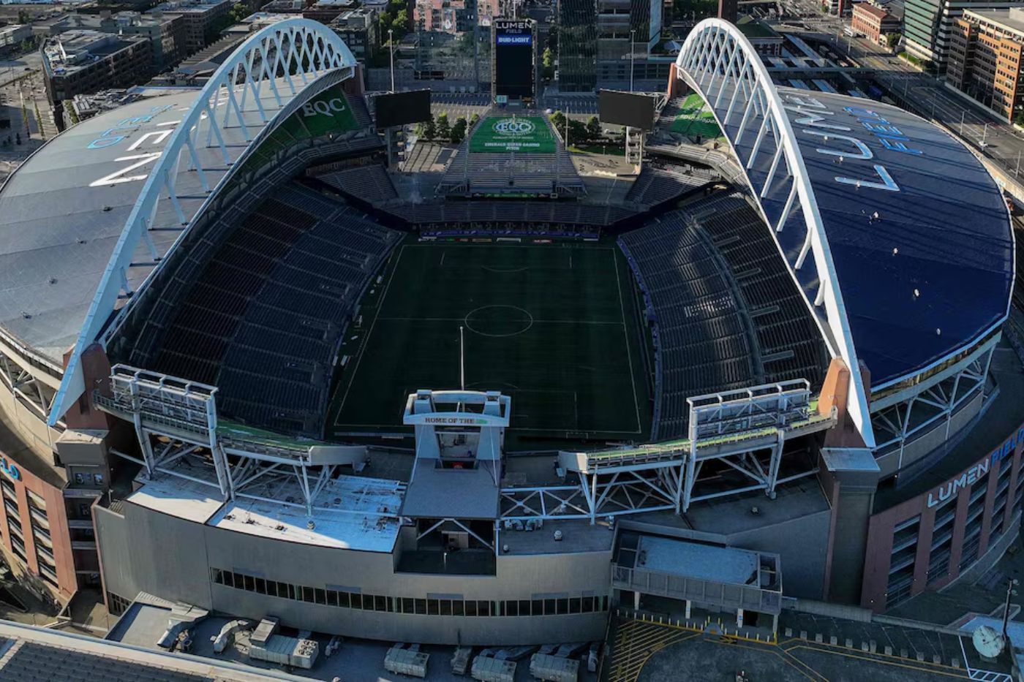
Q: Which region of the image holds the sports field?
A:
center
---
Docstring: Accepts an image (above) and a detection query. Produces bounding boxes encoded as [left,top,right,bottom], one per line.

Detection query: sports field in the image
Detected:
[320,233,658,441]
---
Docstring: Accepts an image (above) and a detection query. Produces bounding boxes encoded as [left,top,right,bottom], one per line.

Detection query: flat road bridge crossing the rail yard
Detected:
[699,66,940,84]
